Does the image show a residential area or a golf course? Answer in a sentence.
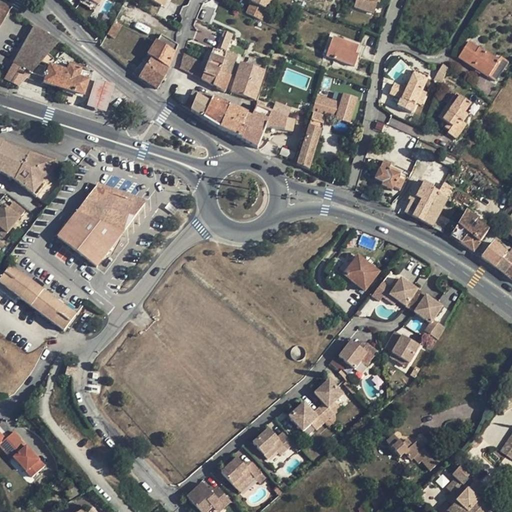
This looks like a residential area.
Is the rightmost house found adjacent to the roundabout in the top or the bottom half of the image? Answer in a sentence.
The rightmost house found adjacent to the roundabout sits in the top half of the picture.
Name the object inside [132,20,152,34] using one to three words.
vehicle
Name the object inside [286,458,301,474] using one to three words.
swimming pool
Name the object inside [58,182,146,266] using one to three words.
building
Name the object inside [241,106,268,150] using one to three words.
house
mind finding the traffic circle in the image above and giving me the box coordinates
[196,150,290,243]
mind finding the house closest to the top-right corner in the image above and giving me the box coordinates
[459,42,509,80]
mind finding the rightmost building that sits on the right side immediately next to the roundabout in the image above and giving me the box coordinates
[297,94,338,168]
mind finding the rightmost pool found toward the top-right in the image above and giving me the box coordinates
[388,58,406,80]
